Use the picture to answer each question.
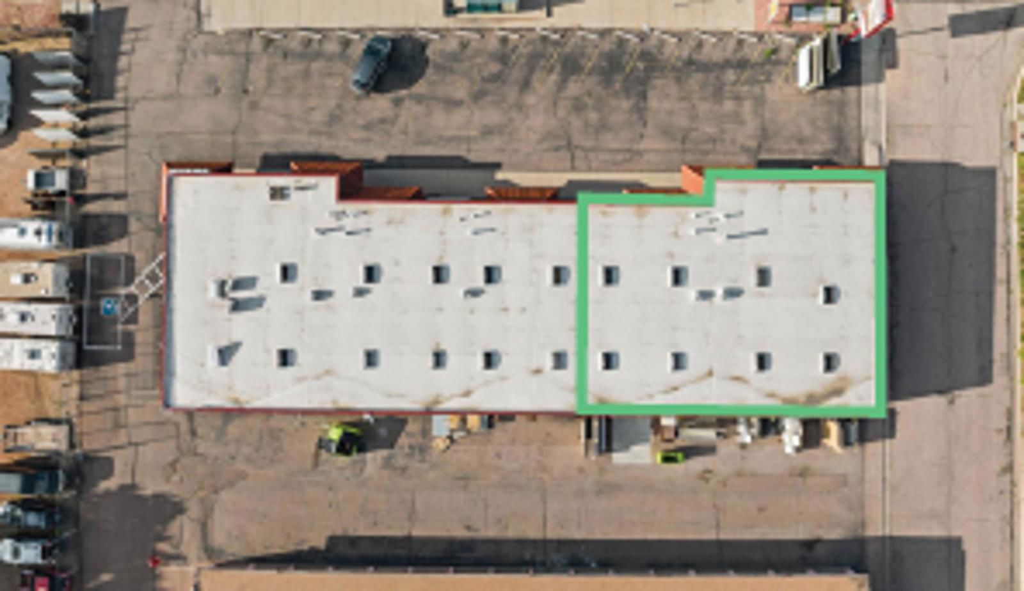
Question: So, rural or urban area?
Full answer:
It looks urban.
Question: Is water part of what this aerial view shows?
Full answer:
No, there's no water in this view.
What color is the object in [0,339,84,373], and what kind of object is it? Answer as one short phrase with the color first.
white trailer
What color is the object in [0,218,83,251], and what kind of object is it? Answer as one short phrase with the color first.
white trailer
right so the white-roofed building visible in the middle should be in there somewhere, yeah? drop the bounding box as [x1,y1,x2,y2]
[161,160,886,419]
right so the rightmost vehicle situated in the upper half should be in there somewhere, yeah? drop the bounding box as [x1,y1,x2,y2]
[353,32,397,95]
